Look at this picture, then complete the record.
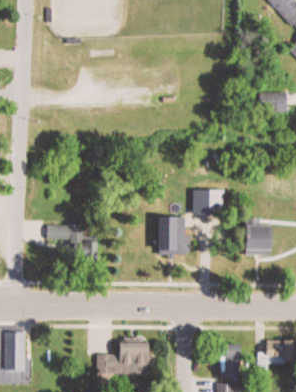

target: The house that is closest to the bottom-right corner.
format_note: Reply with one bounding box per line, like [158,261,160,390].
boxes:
[258,340,294,372]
